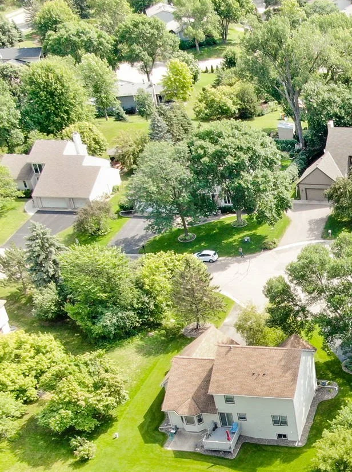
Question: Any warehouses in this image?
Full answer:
No, there is no warehouse in the image.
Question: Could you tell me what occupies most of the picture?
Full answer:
For the most part, this view shows trees.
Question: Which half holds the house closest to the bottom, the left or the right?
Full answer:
It is on the right.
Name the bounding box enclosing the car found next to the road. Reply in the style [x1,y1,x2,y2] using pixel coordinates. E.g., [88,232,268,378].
[192,249,219,263]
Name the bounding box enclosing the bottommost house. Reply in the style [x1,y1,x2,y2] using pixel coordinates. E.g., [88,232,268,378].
[161,325,335,456]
